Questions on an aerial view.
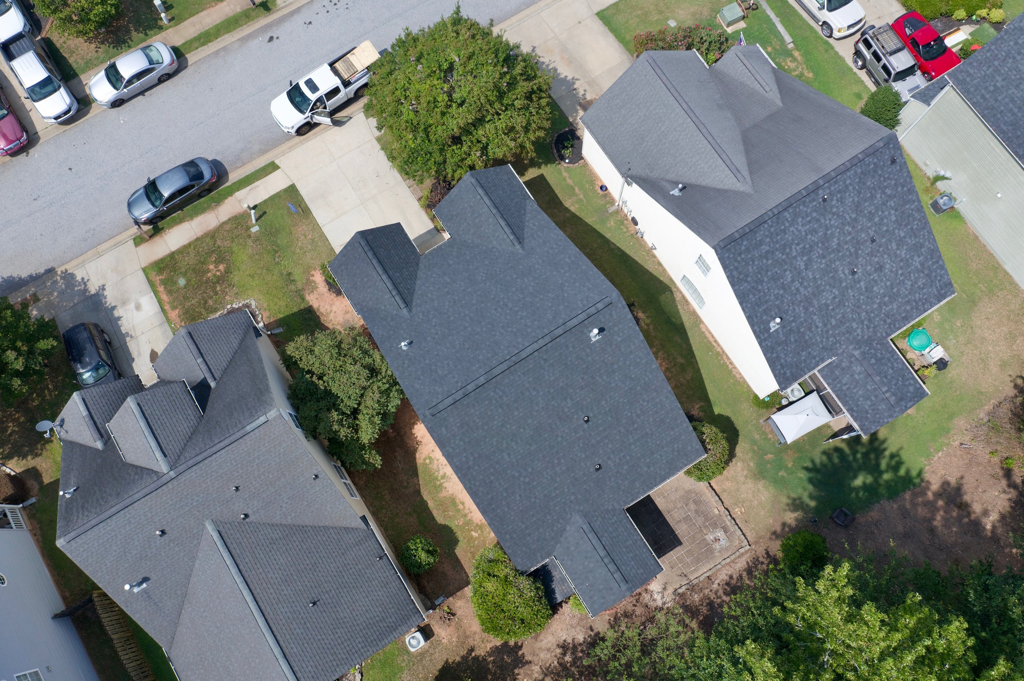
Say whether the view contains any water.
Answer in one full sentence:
No, the picture contains no water.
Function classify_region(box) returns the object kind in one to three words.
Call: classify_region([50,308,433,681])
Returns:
house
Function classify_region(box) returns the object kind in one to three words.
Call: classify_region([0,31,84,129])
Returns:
truck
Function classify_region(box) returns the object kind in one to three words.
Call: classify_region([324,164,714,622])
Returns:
house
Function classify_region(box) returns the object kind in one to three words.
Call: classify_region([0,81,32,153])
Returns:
car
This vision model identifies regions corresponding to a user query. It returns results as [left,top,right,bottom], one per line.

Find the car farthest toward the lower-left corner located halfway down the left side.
[62,320,130,388]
